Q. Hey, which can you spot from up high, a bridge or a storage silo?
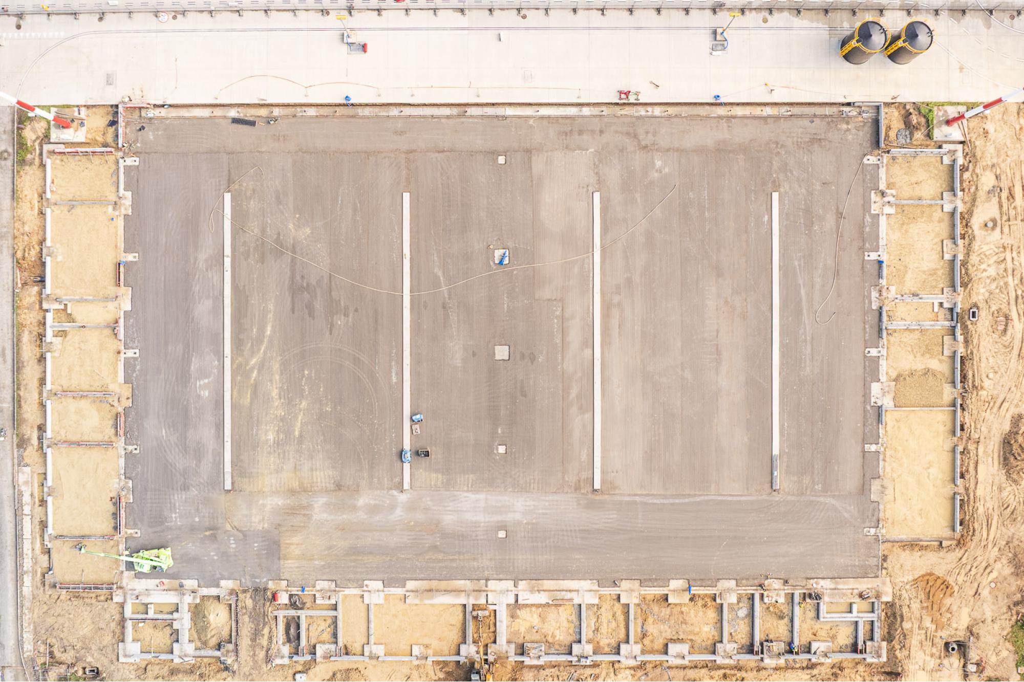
storage silo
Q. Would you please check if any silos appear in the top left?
No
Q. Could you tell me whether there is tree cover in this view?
No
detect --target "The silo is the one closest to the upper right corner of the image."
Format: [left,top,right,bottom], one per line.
[885,15,941,64]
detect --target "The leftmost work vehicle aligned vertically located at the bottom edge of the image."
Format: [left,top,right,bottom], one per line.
[471,612,493,682]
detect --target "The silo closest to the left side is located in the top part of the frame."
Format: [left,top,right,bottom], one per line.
[840,15,894,64]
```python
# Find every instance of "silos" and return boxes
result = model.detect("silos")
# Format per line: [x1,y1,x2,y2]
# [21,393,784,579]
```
[840,15,894,64]
[885,15,941,64]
